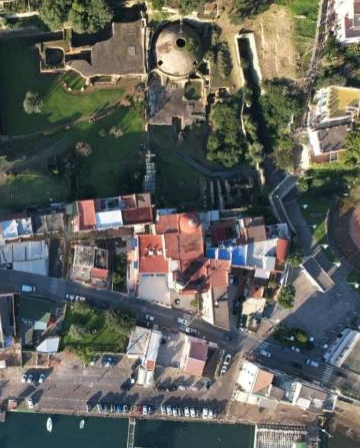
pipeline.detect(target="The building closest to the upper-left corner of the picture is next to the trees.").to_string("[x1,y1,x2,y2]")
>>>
[68,19,144,79]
